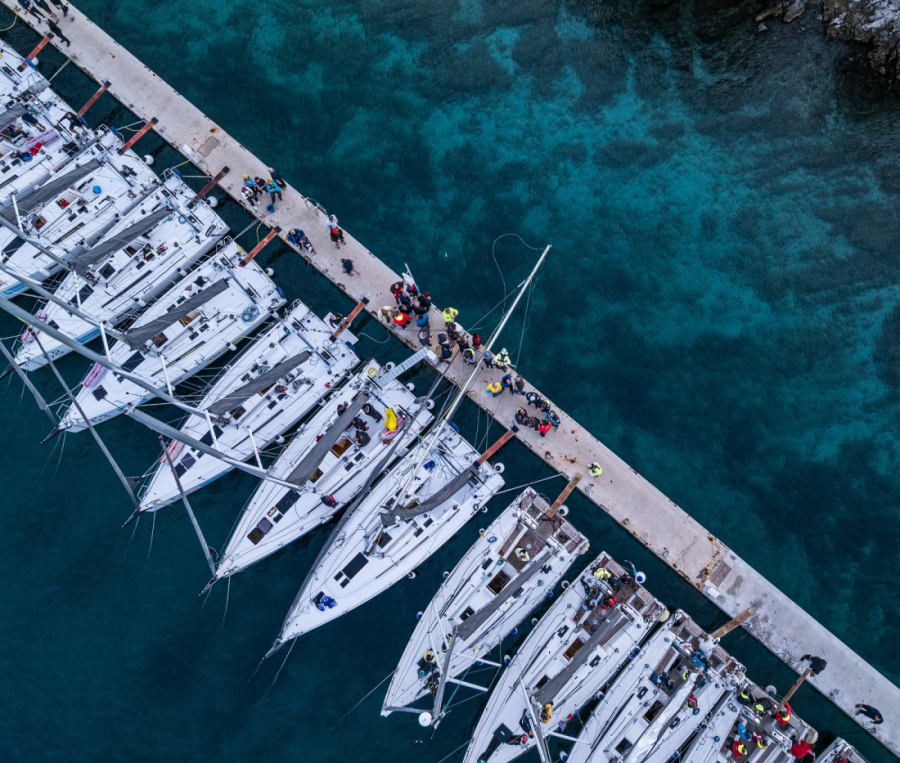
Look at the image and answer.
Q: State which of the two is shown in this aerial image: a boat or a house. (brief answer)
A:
boat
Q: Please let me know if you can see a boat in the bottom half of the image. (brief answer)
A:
Yes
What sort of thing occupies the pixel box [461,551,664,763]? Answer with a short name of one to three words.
boat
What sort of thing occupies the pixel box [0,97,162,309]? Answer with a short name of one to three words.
boat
